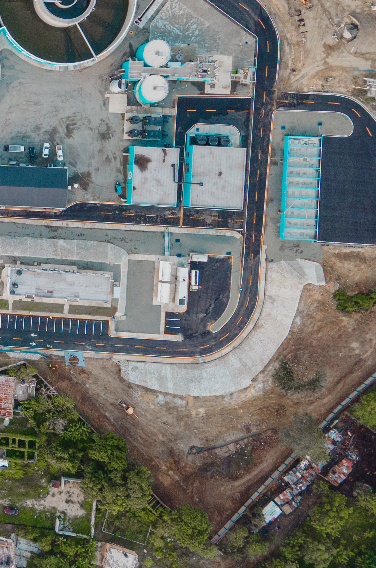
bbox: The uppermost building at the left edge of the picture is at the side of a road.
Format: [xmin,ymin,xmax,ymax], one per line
[0,164,70,208]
